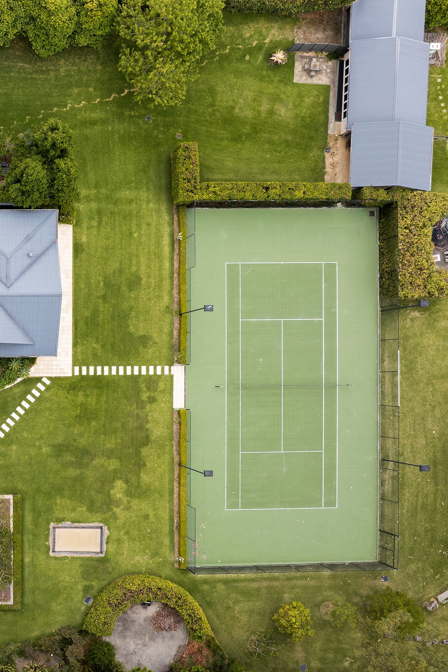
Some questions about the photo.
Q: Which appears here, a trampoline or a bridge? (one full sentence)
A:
Of the two, only a trampoline appears.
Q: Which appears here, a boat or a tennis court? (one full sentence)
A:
The one in the frame is a tennis court.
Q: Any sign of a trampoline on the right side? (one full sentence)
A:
No, there is no trampoline on the right side.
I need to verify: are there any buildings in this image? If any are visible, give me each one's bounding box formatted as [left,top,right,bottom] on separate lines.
[0,208,64,358]
[339,0,435,191]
